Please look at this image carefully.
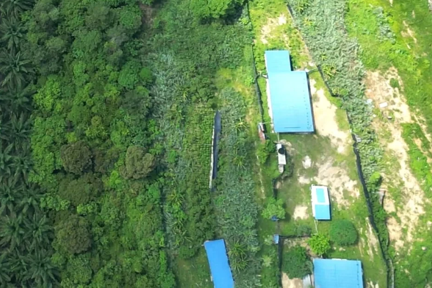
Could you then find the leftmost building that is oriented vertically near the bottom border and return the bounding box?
[202,239,234,288]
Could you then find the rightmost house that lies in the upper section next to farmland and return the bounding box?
[263,50,314,133]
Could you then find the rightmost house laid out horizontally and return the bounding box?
[297,259,364,288]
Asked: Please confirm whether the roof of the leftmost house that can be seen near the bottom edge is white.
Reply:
No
